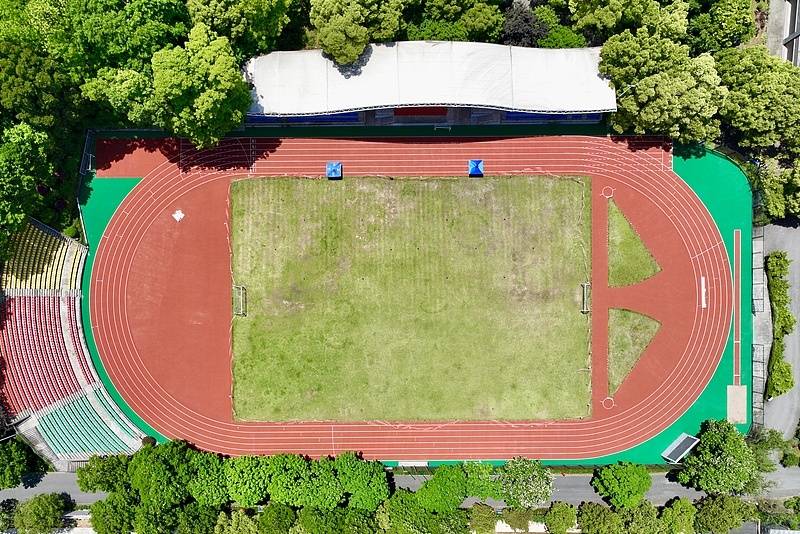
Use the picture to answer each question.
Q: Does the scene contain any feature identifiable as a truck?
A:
No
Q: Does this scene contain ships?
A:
No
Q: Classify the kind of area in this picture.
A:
sports ground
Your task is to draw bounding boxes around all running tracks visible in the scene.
[80,123,752,466]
